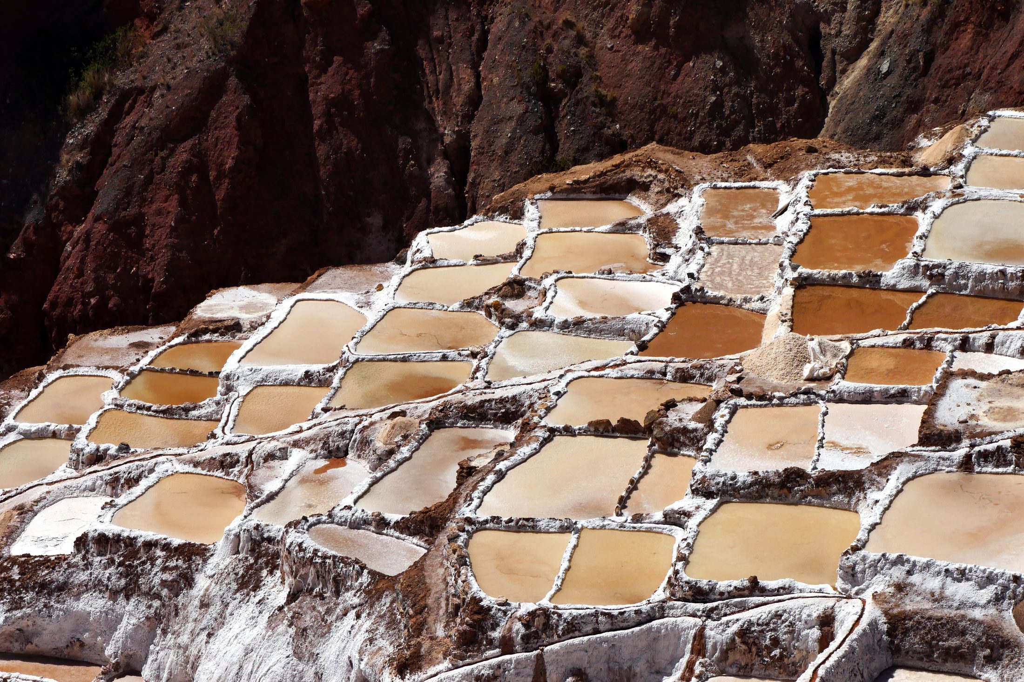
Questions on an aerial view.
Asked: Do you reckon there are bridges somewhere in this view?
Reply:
No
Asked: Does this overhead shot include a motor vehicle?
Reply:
No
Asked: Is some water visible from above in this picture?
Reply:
Yes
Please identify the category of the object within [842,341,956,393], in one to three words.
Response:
pond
